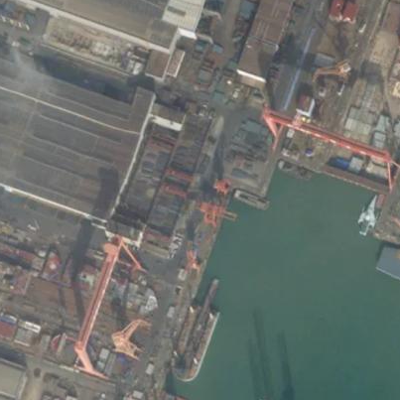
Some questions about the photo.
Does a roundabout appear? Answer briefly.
No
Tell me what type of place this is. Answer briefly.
port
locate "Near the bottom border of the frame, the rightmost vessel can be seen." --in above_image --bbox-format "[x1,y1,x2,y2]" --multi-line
[172,280,220,381]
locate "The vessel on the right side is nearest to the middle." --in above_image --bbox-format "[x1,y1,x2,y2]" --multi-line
[233,190,269,210]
